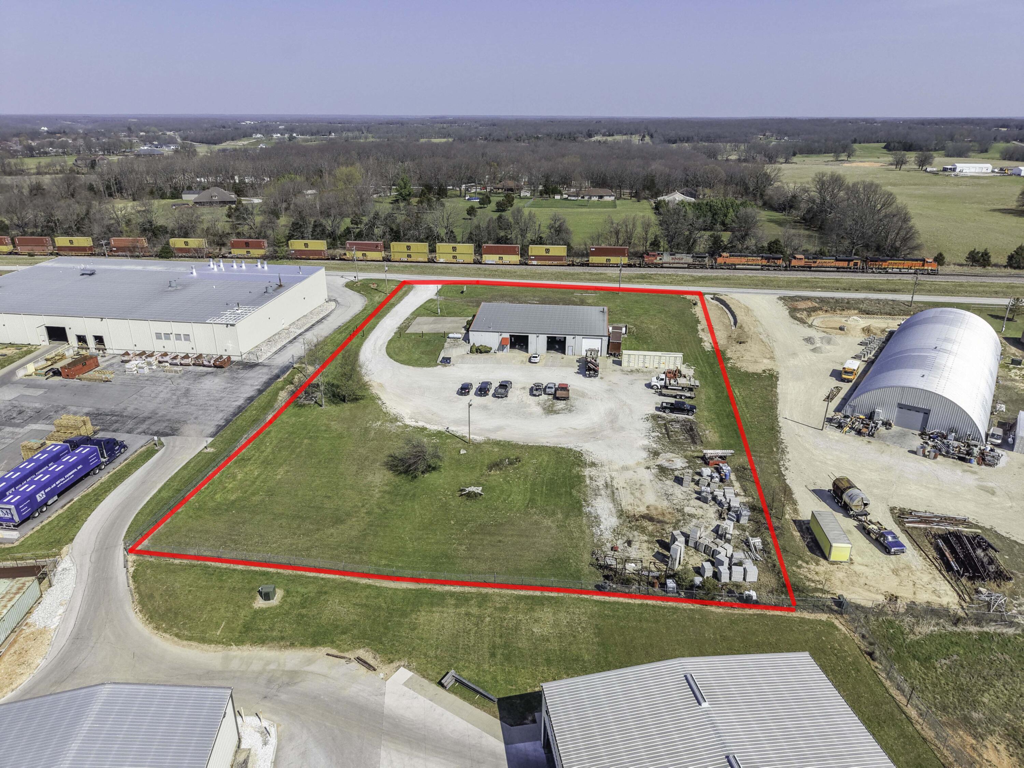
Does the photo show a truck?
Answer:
Yes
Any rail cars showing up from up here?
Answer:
Yes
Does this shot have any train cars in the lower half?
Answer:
No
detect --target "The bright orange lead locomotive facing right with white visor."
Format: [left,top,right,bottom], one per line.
[868,253,940,270]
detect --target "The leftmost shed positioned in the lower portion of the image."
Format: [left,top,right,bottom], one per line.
[0,573,44,650]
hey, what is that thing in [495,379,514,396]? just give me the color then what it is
gray vehicle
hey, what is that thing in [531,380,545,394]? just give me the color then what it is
gray vehicle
